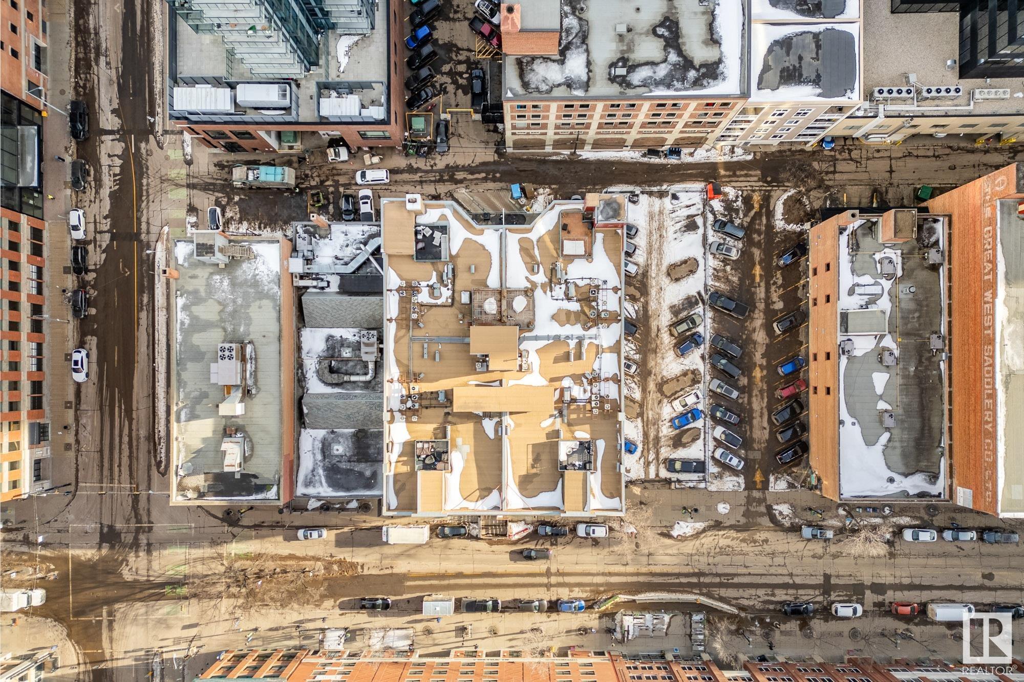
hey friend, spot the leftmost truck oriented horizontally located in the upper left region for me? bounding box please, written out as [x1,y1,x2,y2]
[228,164,297,186]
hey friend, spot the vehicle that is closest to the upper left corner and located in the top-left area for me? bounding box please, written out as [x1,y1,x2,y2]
[68,100,88,141]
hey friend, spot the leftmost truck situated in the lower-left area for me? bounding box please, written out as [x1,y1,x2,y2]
[0,589,51,615]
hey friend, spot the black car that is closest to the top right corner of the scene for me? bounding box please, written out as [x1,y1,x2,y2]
[775,241,808,269]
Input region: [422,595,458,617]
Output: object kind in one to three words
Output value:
trailer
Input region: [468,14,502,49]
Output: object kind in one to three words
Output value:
truck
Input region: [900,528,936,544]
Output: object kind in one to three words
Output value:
car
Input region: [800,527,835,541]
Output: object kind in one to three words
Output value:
vehicle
